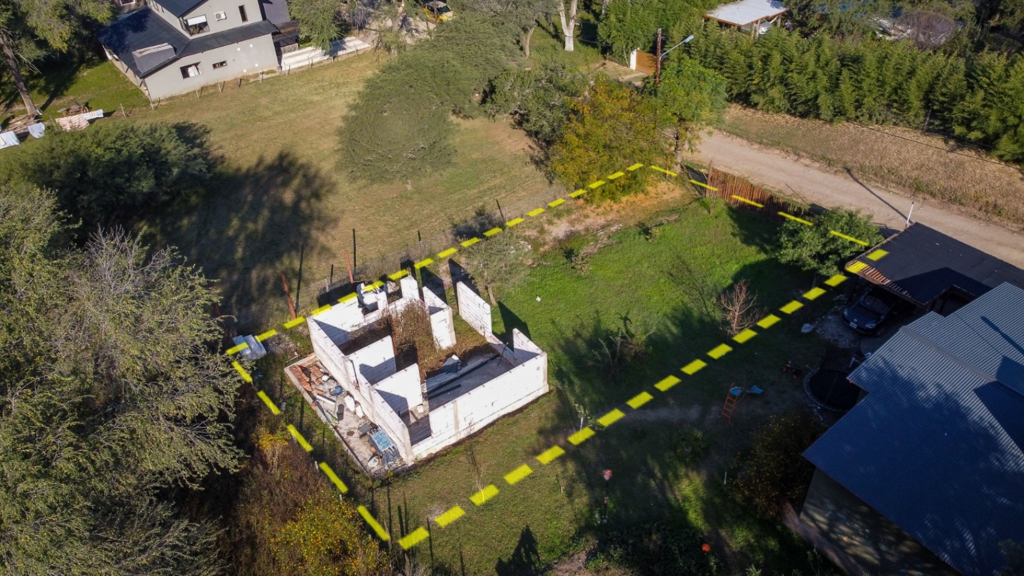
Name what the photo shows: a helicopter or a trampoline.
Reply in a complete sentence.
It is a trampoline that can be seen here.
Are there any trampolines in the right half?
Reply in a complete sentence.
Yes, a trampoline is visible in the right half.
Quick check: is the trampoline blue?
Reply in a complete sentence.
No, the trampoline is black.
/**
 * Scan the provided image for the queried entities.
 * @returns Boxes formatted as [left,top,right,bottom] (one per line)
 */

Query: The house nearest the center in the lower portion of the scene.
[312,274,553,466]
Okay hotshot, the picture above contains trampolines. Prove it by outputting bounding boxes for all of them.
[804,365,854,412]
